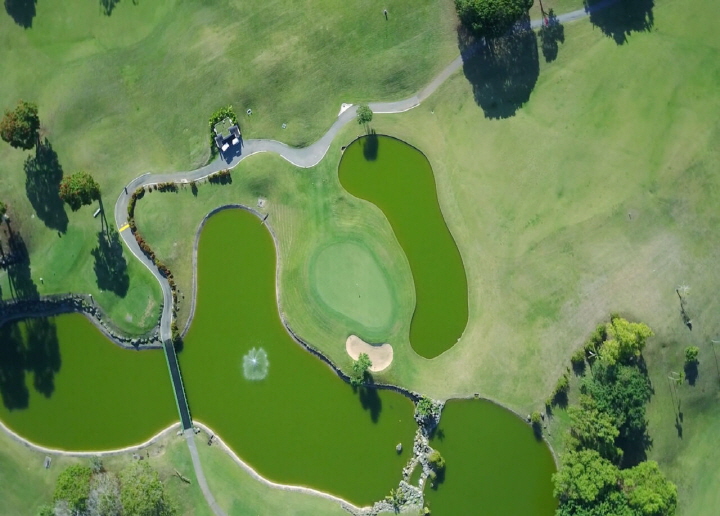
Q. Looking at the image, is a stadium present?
No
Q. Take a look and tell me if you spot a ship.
No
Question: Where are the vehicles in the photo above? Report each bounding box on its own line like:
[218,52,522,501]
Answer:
[231,138,240,146]
[221,143,231,152]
